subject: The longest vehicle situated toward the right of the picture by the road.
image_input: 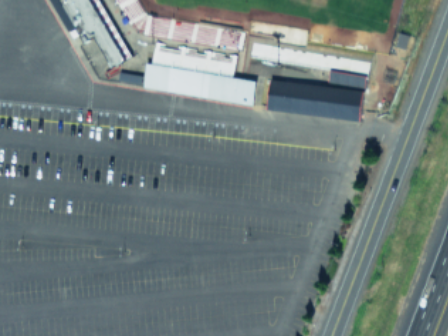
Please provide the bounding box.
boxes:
[419,273,438,308]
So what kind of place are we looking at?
parking lot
